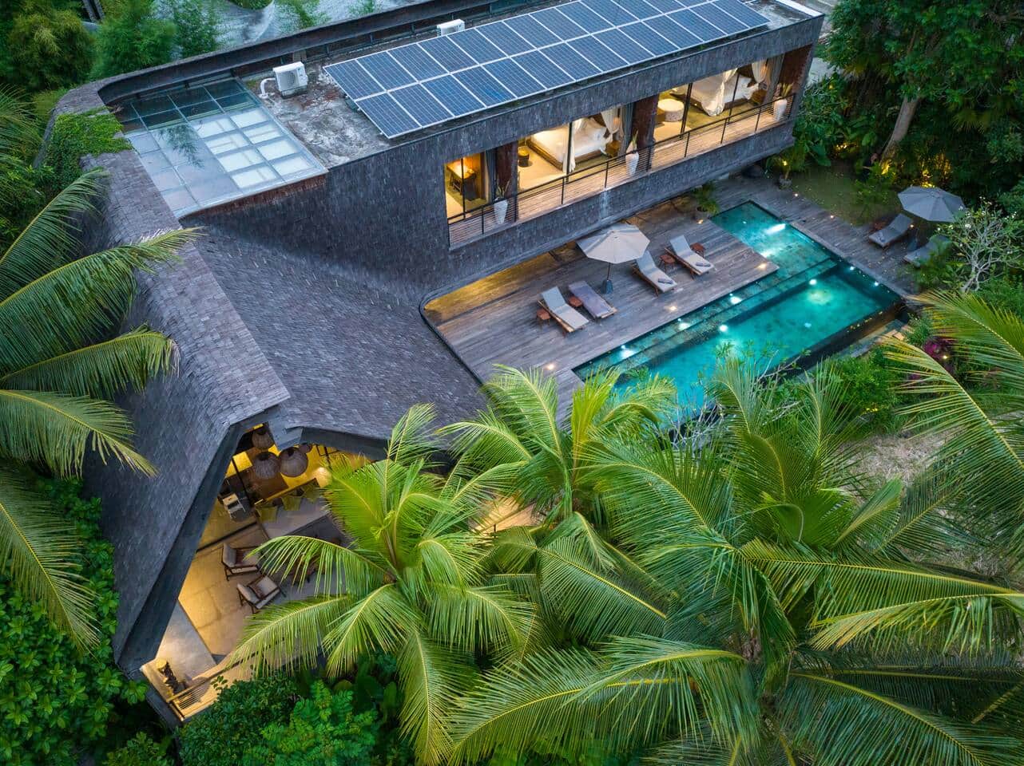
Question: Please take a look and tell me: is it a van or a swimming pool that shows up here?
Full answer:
Visible in the photo is a swimming pool.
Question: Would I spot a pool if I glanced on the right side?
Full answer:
Yes, the scene does show a pool on the right side.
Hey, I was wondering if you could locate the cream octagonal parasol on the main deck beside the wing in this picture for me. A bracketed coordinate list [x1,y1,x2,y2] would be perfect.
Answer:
[574,218,655,292]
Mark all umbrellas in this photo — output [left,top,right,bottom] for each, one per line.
[574,218,655,292]
[897,177,976,248]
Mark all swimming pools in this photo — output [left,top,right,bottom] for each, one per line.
[571,202,928,469]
